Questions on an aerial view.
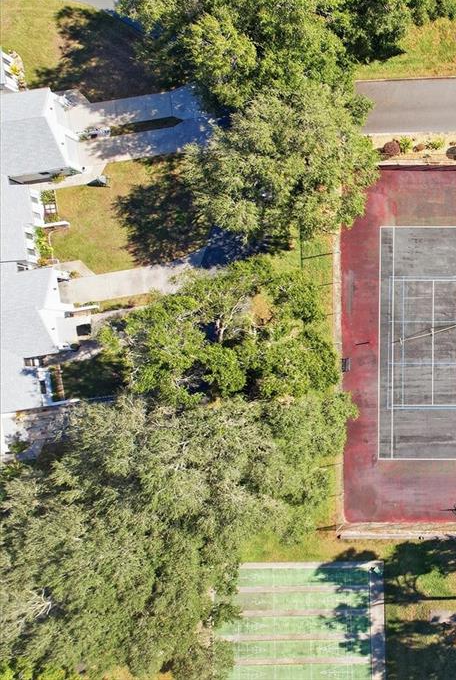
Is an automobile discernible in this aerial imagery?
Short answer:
No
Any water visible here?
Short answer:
No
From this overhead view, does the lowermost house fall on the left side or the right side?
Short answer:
left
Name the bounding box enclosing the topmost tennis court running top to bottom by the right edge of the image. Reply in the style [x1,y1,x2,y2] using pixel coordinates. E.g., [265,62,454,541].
[379,226,456,460]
